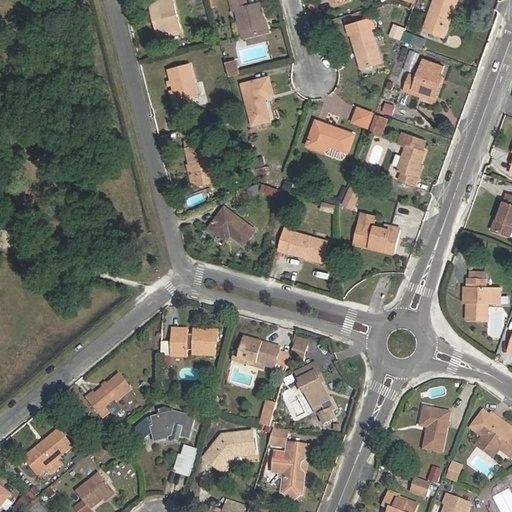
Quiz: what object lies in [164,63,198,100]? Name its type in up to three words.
house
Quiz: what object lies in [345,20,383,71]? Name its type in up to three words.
house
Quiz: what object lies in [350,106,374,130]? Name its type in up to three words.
building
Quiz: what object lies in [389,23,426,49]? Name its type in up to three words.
shed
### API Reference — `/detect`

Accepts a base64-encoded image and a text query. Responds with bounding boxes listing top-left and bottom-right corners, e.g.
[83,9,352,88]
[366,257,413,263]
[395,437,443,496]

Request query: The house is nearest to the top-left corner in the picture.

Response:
[149,0,184,38]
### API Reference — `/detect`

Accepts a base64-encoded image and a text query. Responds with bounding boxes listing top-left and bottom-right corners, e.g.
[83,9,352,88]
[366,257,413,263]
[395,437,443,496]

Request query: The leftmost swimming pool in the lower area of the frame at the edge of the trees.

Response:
[178,368,199,382]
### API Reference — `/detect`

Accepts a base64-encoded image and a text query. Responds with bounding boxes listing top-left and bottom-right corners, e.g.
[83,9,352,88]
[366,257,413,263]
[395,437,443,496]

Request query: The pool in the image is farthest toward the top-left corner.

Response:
[237,40,270,64]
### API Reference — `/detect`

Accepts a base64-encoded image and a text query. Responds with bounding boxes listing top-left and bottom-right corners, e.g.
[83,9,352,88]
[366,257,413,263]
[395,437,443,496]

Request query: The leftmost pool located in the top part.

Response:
[186,193,206,208]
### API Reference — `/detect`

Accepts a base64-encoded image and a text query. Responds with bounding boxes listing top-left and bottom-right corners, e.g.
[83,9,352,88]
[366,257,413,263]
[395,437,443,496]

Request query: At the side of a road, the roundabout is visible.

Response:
[368,308,437,382]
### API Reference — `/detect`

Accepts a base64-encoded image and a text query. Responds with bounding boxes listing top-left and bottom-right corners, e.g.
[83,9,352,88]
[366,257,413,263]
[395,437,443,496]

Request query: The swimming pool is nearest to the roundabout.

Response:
[420,386,448,400]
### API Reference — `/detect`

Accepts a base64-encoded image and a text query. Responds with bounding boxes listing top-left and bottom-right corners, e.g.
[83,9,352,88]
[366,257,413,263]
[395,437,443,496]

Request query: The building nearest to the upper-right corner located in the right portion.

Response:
[421,0,458,42]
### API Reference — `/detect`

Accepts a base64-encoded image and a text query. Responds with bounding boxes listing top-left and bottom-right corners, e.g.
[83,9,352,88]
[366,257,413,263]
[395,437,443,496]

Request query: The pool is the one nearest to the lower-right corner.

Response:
[471,456,495,474]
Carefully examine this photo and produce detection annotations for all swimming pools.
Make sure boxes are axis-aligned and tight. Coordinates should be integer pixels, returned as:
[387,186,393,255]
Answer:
[420,386,448,400]
[231,370,253,386]
[186,193,206,208]
[178,368,199,382]
[471,456,495,474]
[237,40,270,64]
[290,398,305,416]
